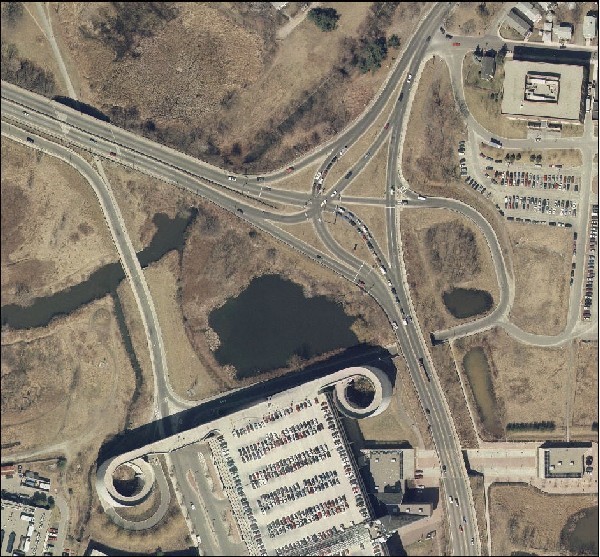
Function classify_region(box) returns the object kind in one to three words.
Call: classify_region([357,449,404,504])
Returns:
house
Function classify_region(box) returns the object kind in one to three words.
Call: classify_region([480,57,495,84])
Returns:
house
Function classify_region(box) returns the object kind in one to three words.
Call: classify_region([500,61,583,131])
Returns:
building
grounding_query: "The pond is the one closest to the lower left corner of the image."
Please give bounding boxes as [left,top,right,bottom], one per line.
[209,272,357,378]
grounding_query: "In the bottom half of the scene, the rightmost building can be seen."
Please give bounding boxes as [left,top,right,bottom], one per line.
[537,447,584,477]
